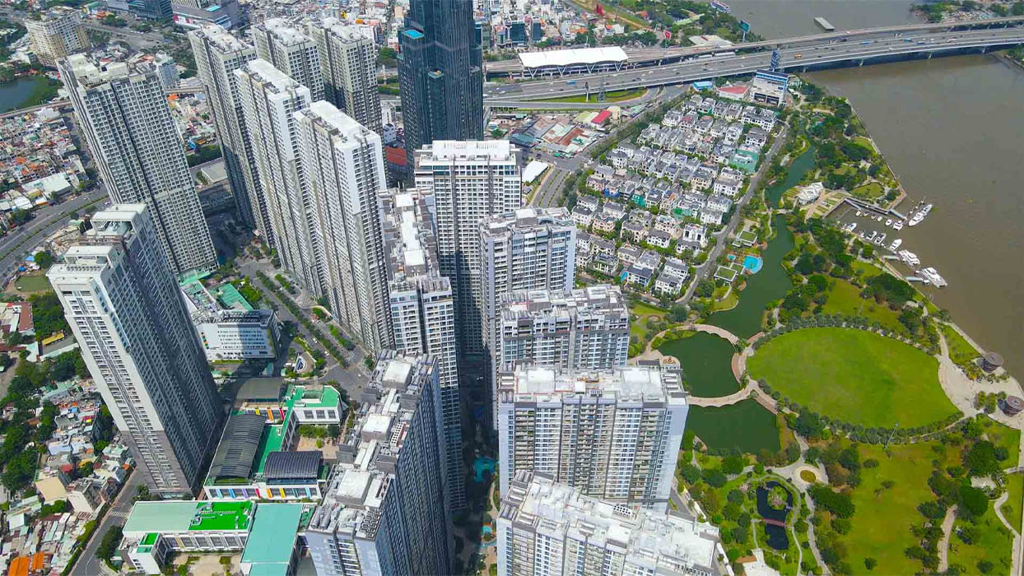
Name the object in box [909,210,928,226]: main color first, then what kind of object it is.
white boat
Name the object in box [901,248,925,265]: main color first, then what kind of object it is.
white boat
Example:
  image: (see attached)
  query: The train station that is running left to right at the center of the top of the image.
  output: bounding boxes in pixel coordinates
[520,52,628,77]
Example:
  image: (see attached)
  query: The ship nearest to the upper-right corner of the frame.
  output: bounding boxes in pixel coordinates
[813,16,836,30]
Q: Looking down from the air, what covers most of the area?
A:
buildings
